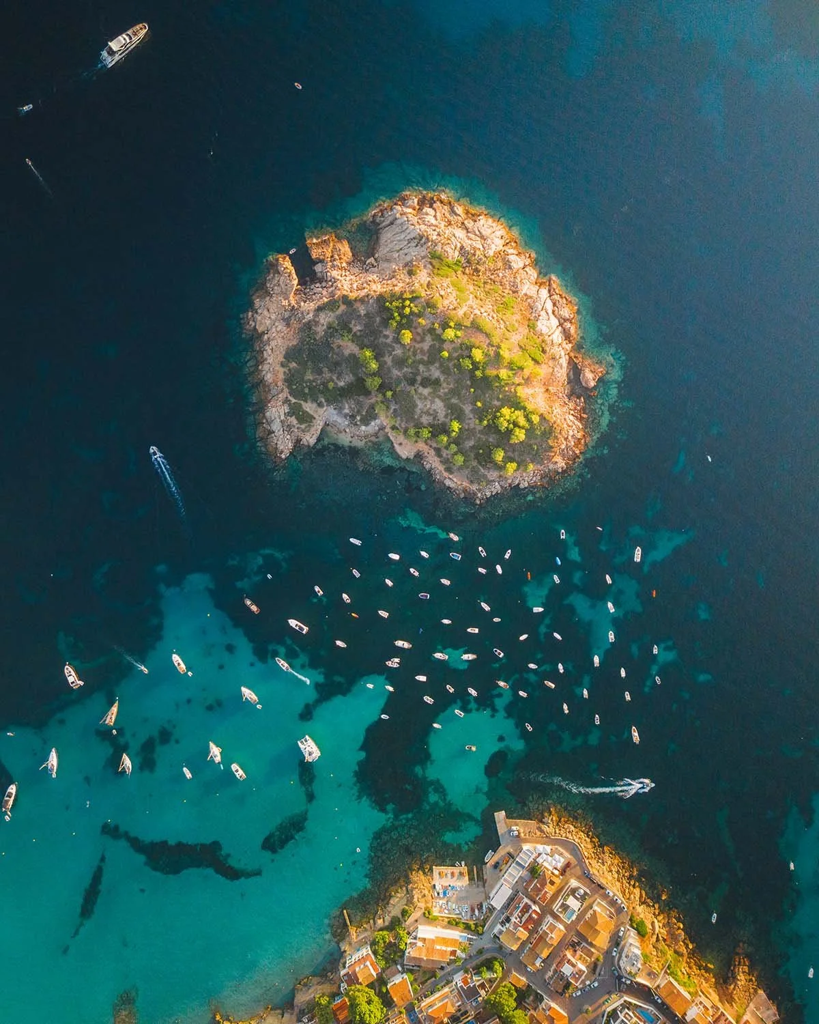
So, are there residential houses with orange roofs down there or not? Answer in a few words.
Yes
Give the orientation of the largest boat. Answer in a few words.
diagonally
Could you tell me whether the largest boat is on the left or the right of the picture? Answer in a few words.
left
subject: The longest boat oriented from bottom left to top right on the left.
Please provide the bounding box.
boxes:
[98,21,145,69]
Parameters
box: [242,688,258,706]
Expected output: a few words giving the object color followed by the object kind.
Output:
white boat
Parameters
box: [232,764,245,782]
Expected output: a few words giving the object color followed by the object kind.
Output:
white boat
